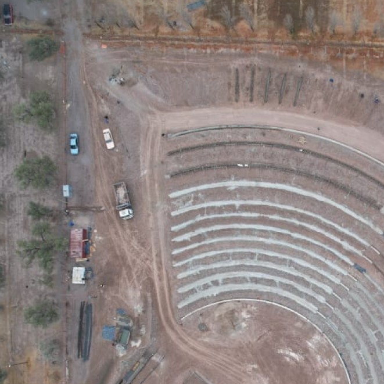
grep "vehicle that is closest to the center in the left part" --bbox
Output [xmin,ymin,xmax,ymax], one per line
[113,183,133,221]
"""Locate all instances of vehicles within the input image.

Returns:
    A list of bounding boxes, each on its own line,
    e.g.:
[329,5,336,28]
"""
[113,183,133,221]
[103,128,115,150]
[3,4,14,26]
[70,133,79,155]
